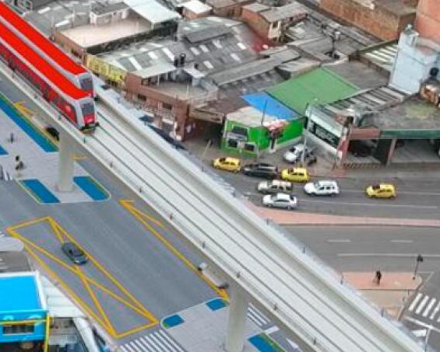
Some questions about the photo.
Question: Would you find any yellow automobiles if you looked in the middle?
Yes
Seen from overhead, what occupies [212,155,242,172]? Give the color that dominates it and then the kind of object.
yellow car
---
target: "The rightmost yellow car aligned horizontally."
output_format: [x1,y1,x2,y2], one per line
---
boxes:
[363,183,396,199]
